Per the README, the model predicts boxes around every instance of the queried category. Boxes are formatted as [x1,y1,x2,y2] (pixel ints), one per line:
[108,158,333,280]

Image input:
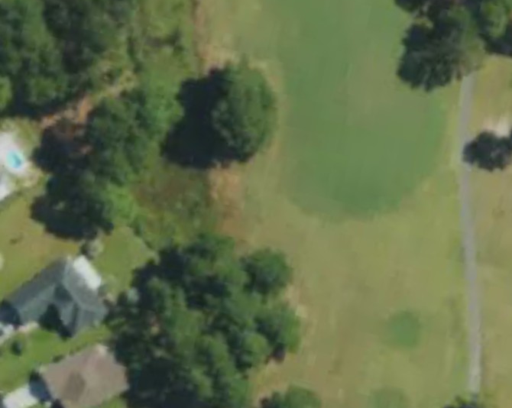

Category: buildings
[0,255,110,342]
[39,340,130,408]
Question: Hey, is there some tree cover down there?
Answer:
Yes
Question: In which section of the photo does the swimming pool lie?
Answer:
left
